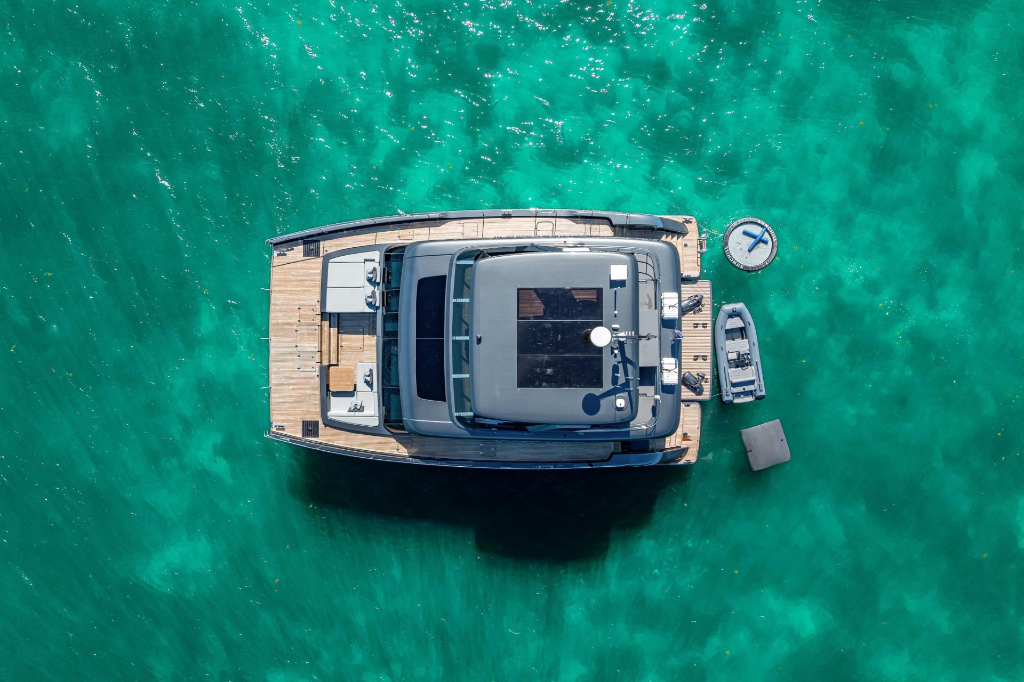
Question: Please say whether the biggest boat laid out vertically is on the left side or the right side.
right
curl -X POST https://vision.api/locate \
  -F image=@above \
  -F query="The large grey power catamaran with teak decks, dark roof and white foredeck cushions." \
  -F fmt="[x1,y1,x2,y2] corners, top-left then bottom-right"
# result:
[262,209,712,470]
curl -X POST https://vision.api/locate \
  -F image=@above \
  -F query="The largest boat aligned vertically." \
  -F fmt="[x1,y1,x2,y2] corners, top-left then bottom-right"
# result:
[715,301,766,404]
